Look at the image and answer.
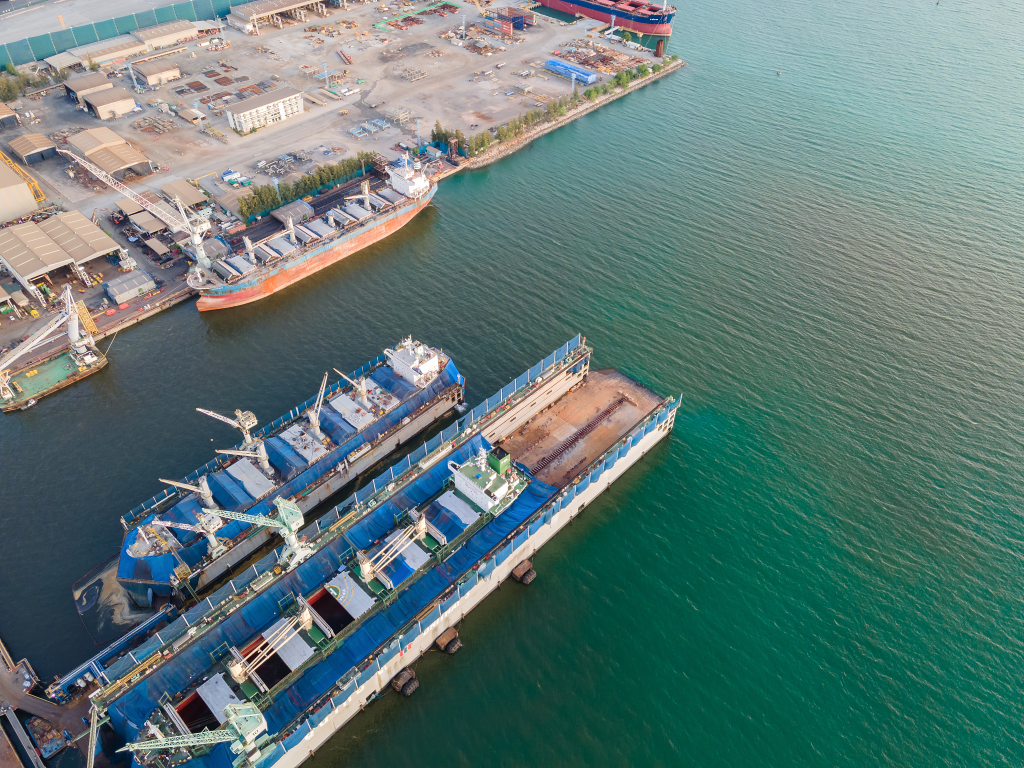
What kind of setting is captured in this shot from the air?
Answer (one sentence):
This looks like a port.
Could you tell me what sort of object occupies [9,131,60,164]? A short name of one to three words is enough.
building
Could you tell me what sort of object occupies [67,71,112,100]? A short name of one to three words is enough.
building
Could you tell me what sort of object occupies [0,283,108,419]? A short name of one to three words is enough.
ship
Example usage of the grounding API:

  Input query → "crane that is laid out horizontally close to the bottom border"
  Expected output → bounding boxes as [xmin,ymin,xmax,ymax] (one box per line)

[123,712,267,768]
